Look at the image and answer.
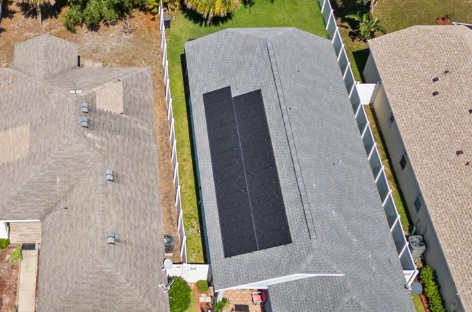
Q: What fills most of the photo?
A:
buildings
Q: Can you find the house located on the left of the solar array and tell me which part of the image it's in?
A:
left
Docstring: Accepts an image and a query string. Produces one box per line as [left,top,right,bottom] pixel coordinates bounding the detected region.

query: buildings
[363,26,472,312]
[0,34,172,312]
[184,29,416,312]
